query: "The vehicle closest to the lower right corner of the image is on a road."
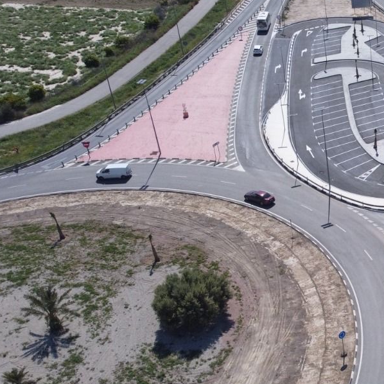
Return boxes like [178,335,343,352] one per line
[241,188,277,206]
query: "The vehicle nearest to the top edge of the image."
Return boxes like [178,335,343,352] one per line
[255,7,271,29]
